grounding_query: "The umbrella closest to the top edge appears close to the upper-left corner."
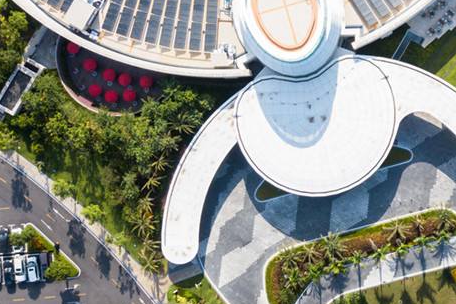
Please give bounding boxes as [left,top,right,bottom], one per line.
[67,41,81,55]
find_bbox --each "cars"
[13,256,28,282]
[0,229,13,254]
[12,227,26,253]
[27,256,40,281]
[2,259,15,284]
[37,250,50,276]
